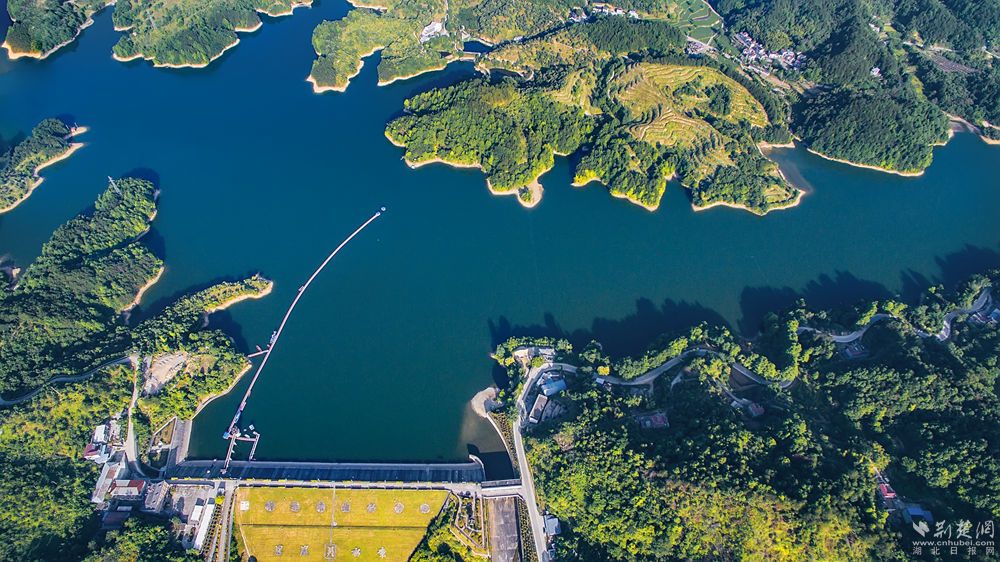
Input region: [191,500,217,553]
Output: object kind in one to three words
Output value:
shed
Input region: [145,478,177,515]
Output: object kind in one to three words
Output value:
building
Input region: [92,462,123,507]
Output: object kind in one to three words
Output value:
building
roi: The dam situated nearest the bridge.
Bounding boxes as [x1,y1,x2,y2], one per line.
[169,460,484,562]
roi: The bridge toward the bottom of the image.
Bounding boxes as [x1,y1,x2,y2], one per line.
[481,479,524,498]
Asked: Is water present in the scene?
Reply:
Yes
